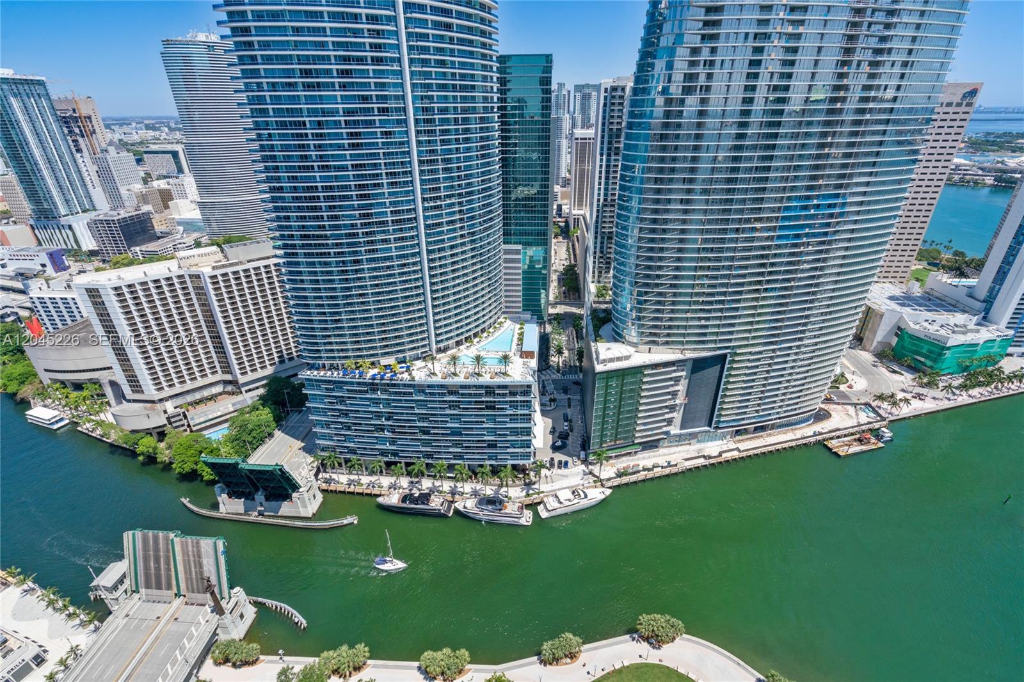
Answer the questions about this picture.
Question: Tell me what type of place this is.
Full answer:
This looks like a port.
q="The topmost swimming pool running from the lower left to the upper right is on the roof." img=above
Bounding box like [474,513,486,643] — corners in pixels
[476,324,515,349]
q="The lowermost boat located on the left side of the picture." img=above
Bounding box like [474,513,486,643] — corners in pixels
[374,536,406,569]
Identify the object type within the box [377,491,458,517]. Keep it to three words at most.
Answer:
boat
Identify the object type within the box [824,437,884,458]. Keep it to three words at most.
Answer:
ship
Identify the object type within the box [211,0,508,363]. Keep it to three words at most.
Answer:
building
